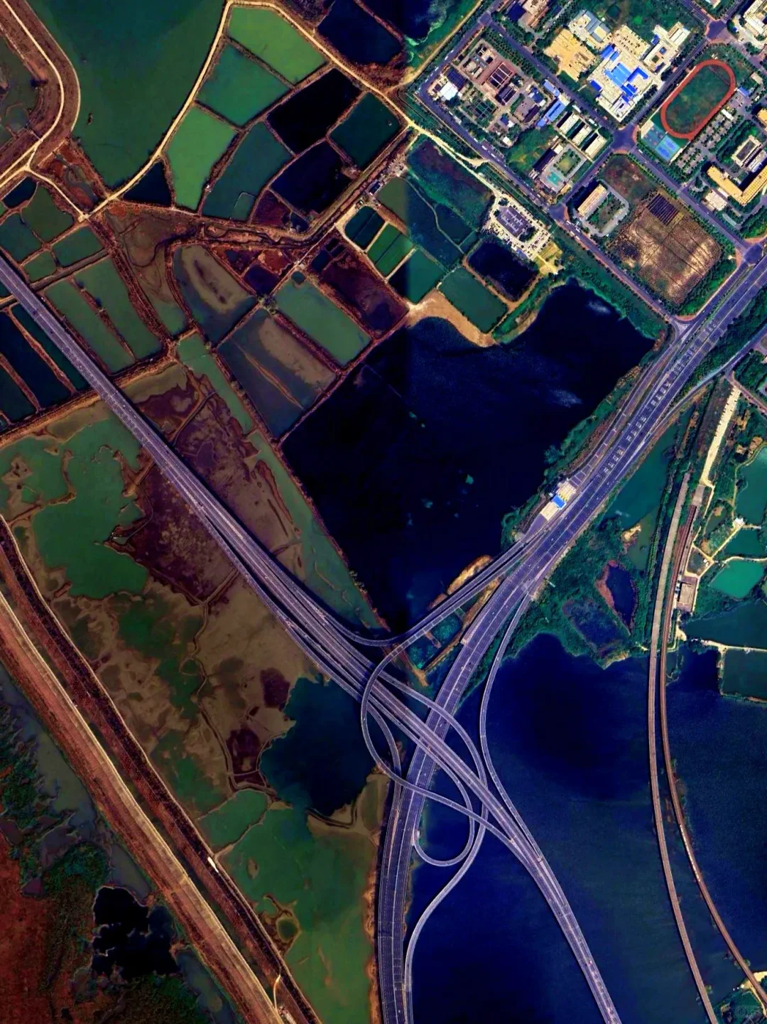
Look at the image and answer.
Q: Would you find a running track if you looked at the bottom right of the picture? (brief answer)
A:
No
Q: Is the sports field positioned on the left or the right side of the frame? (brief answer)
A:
right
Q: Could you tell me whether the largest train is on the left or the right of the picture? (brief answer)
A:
right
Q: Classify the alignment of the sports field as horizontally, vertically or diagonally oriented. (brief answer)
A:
diagonally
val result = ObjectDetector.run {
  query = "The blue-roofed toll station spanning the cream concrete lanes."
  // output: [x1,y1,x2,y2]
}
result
[543,413,626,519]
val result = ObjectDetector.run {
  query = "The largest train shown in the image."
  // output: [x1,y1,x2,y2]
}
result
[682,821,702,879]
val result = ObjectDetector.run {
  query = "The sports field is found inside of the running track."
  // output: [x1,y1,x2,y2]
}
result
[667,65,731,130]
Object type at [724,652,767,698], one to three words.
pond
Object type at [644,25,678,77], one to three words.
building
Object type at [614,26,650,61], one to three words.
building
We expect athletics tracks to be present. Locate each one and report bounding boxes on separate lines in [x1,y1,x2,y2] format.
[661,60,736,139]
